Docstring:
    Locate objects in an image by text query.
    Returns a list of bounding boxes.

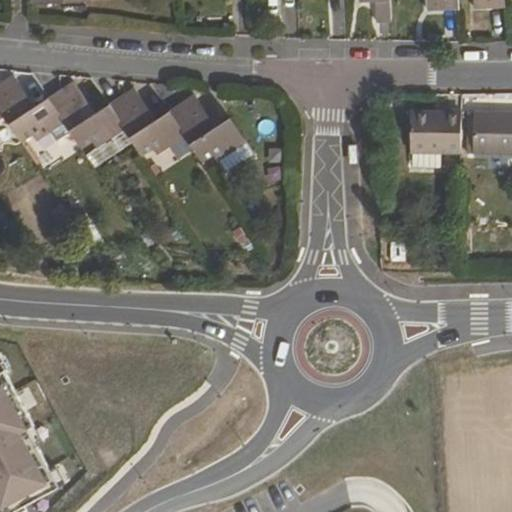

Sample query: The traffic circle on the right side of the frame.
[292,306,372,387]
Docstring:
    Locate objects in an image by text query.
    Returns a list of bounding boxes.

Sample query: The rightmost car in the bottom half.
[436,330,460,342]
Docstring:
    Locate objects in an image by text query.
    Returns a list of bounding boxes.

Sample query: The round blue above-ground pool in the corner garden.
[256,118,276,140]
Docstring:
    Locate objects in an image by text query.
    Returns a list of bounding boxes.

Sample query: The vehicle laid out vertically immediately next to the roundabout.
[276,342,289,367]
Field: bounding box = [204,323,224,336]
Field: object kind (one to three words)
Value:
vehicle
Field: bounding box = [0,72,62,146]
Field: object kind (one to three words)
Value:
house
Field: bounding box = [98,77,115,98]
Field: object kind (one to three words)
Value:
car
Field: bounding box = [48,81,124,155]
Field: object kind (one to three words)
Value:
house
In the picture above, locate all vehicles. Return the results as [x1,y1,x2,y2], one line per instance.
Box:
[350,48,370,58]
[276,342,289,367]
[231,500,244,512]
[315,291,338,302]
[170,43,192,54]
[147,42,168,52]
[436,330,460,342]
[98,77,115,98]
[204,323,224,336]
[446,10,456,30]
[64,4,85,14]
[268,484,284,508]
[114,76,126,95]
[396,46,418,56]
[196,46,216,56]
[286,0,294,8]
[244,496,260,512]
[93,38,114,48]
[464,50,488,62]
[278,480,294,500]
[118,40,142,50]
[492,12,504,35]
